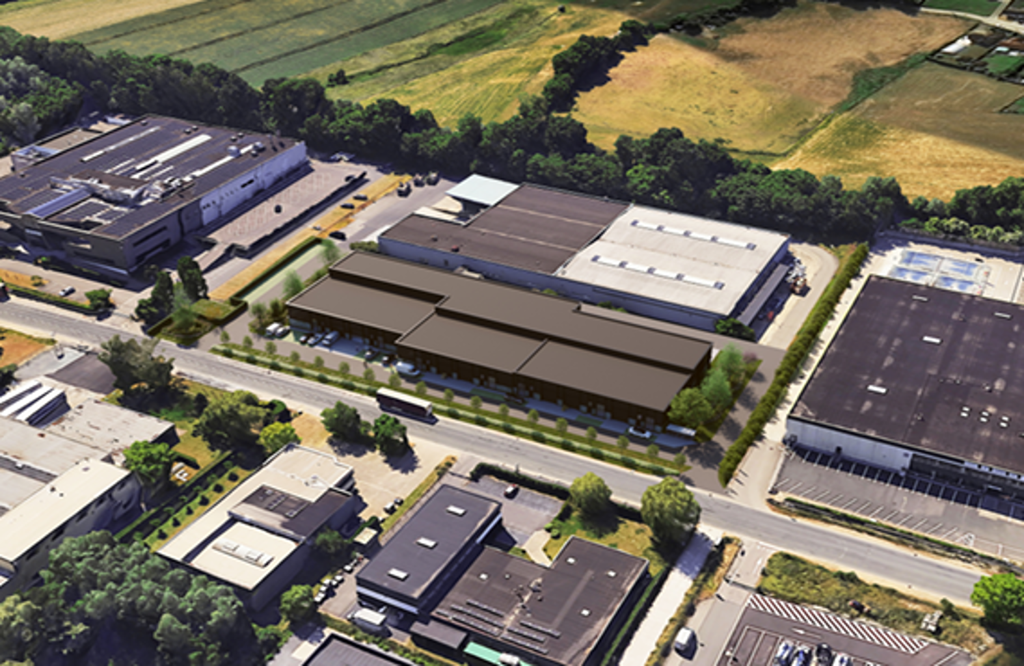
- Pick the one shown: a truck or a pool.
truck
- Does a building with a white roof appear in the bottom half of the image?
Yes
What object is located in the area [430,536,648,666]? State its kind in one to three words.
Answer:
building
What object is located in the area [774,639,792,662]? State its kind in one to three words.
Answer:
car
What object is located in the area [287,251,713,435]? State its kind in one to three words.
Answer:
building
